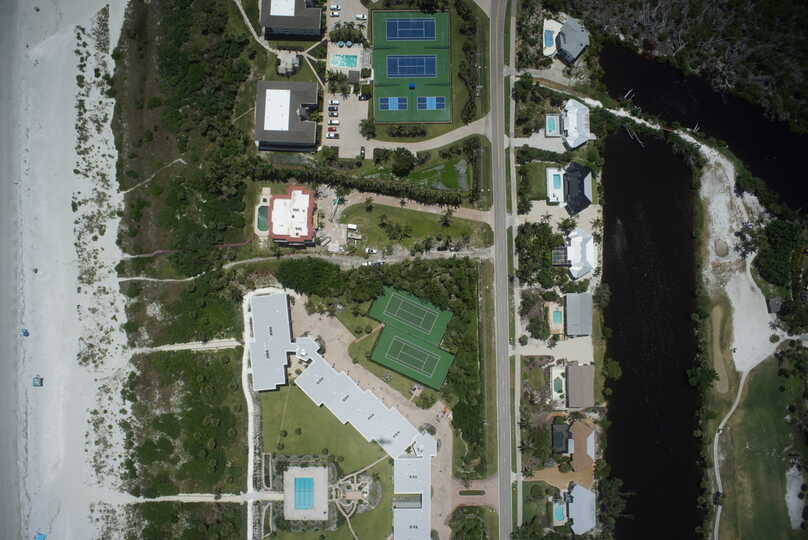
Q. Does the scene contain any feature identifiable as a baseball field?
No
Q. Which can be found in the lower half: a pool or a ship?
pool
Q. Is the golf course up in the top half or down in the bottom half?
bottom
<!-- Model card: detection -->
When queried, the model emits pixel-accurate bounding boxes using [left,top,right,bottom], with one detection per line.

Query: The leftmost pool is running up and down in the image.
[255,201,270,237]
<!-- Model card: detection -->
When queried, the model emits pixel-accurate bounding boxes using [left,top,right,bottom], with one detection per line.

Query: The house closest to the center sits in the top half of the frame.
[270,187,317,242]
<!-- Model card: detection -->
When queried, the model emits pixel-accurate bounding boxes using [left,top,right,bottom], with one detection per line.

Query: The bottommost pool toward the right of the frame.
[553,498,567,527]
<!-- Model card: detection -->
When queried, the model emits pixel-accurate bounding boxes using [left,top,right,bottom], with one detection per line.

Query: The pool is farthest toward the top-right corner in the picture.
[544,19,562,55]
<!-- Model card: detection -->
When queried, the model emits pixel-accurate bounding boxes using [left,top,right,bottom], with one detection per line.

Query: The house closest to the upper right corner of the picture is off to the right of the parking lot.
[558,13,589,59]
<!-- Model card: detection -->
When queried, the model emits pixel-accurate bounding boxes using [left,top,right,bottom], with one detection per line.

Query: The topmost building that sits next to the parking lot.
[262,0,321,34]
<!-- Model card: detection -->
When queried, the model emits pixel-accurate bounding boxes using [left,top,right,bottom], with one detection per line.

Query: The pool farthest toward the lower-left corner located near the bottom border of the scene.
[284,467,327,520]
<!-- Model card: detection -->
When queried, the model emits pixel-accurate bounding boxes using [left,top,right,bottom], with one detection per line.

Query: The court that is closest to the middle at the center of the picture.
[384,293,439,334]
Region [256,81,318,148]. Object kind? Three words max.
building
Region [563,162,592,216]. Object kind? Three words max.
house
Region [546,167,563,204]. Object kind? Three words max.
swimming pool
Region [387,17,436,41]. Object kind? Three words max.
tennis court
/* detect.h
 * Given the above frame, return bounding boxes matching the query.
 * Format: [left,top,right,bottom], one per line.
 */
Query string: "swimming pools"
[552,425,567,452]
[327,42,362,73]
[255,201,270,237]
[546,167,563,204]
[553,498,567,527]
[552,366,566,410]
[545,114,560,136]
[545,302,563,339]
[544,19,562,55]
[284,467,327,520]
